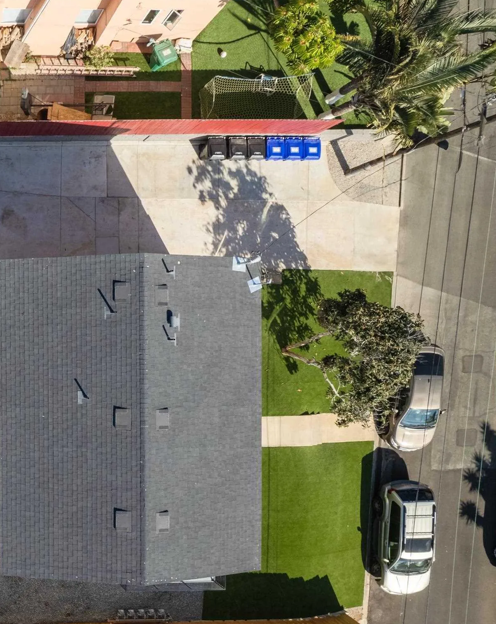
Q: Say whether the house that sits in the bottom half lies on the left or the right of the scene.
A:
left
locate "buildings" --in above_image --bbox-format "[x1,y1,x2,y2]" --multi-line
[0,253,262,586]
[0,0,229,57]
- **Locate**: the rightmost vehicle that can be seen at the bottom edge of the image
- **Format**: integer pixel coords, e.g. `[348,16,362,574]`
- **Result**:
[365,478,433,595]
